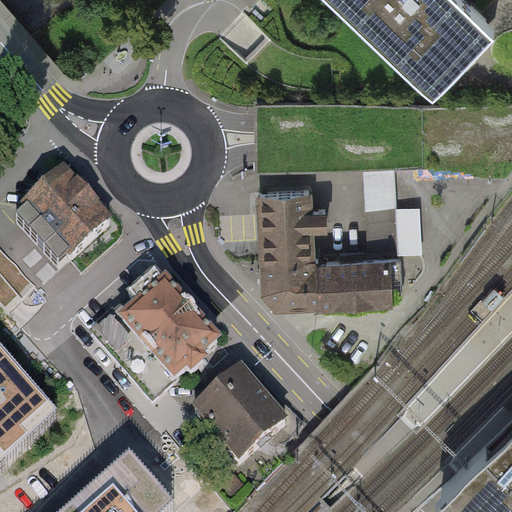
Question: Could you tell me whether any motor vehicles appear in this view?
Yes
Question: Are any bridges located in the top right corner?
No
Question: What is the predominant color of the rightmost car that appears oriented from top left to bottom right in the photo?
black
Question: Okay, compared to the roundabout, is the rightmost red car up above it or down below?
below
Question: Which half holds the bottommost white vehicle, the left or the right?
left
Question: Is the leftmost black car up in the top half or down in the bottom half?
bottom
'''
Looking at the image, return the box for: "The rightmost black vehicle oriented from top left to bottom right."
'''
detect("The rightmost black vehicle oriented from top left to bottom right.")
[253,338,274,360]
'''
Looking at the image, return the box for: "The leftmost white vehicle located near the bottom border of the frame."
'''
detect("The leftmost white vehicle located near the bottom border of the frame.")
[26,474,50,499]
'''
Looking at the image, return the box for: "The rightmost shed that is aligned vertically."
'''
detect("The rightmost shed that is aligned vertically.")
[397,208,423,261]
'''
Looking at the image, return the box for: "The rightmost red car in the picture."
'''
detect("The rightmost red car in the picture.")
[116,396,136,417]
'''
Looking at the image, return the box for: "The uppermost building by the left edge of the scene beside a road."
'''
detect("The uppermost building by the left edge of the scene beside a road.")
[16,160,112,264]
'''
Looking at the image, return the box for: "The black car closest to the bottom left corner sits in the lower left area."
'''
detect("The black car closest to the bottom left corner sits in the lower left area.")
[38,466,60,488]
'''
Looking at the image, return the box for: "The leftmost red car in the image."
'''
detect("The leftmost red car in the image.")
[12,486,34,510]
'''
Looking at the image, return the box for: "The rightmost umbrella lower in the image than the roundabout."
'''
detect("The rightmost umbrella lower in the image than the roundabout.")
[131,359,145,372]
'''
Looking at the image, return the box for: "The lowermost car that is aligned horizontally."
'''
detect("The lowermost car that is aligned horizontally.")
[169,385,193,397]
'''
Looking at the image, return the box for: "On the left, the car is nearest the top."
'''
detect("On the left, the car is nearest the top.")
[120,115,138,135]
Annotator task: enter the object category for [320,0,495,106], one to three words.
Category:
building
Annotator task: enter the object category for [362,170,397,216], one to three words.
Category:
shed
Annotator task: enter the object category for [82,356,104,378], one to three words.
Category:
car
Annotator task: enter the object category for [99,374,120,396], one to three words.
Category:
car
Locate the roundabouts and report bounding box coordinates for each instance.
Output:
[60,86,254,254]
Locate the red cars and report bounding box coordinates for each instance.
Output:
[12,486,34,510]
[116,396,136,417]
